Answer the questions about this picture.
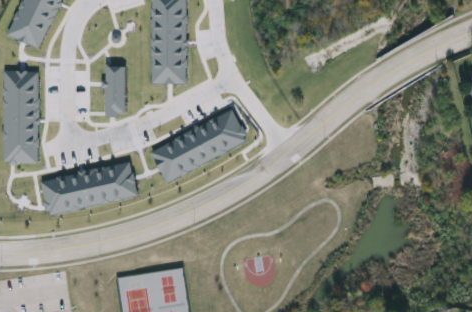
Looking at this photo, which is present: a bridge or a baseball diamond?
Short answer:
bridge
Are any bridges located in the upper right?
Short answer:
Yes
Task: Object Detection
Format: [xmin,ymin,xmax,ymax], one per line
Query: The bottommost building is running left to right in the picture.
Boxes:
[40,156,139,214]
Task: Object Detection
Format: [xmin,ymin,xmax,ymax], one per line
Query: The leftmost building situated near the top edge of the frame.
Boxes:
[9,0,62,48]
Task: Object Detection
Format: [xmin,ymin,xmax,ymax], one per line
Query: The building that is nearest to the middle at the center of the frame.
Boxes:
[152,106,248,183]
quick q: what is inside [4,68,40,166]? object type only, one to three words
building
